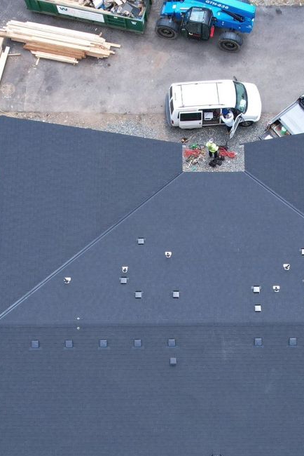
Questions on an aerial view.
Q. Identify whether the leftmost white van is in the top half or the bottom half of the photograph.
top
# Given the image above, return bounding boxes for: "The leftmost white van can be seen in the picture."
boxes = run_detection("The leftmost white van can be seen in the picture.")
[163,78,264,141]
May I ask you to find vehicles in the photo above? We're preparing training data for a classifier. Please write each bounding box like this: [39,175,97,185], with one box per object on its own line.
[163,78,264,141]
[252,91,304,140]
[141,0,257,53]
